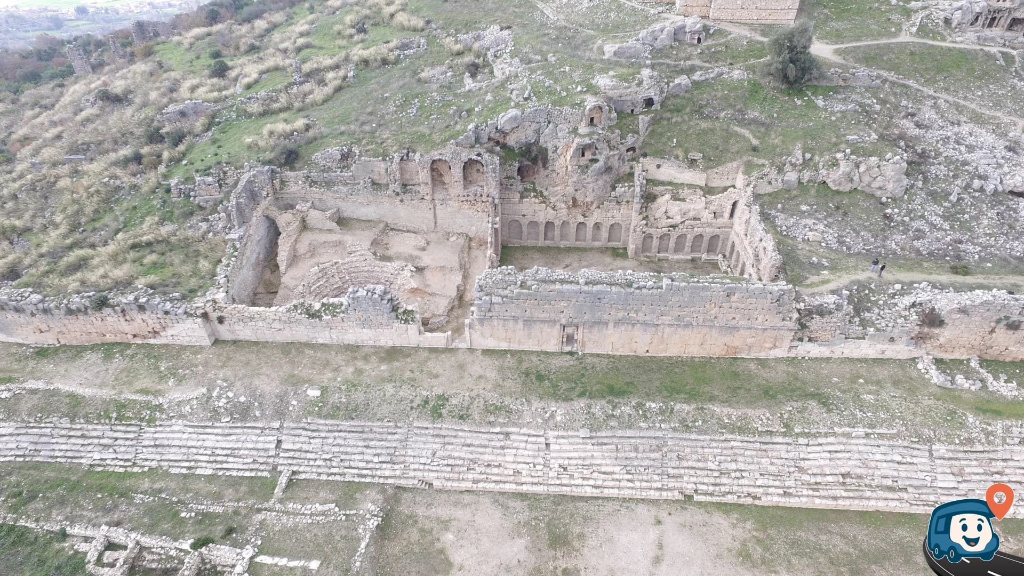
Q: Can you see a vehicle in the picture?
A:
No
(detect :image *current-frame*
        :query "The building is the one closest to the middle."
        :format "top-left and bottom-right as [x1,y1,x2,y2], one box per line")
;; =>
[462,147,811,359]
